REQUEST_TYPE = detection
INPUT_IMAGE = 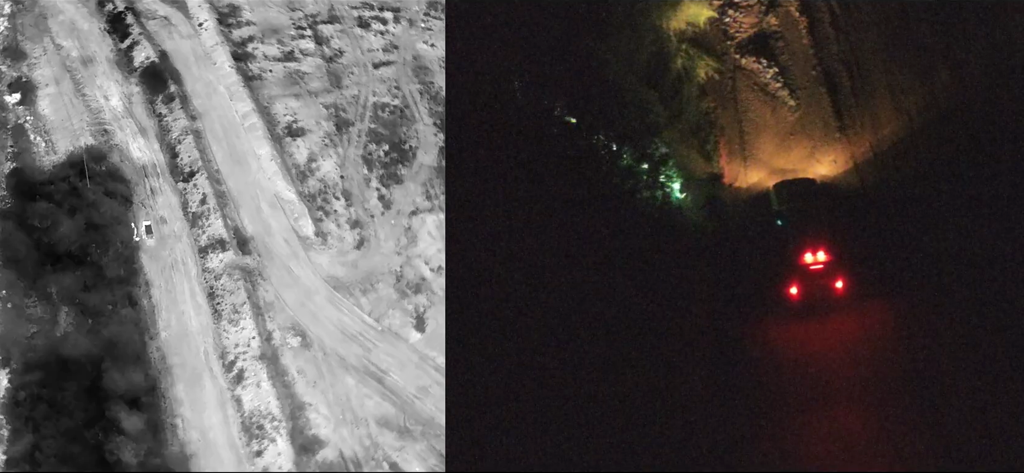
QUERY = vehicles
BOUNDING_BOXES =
[765,181,846,302]
[143,217,156,241]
